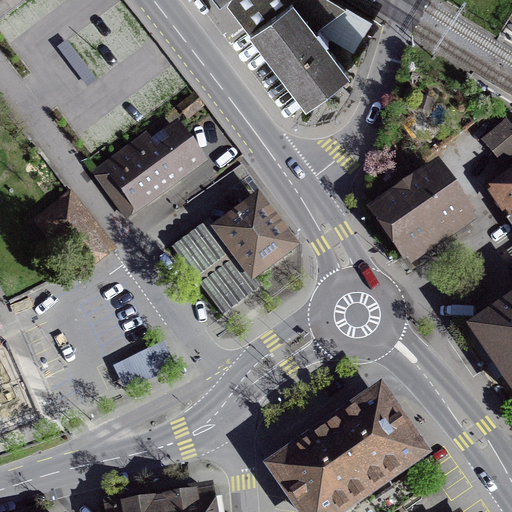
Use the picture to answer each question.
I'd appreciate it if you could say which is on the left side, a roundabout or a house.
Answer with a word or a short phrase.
house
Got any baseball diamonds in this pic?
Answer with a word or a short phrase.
No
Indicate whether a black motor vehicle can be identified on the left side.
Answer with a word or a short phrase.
Yes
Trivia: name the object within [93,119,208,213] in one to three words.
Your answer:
house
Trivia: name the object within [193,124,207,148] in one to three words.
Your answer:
vehicle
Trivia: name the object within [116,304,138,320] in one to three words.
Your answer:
car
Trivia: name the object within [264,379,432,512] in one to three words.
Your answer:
building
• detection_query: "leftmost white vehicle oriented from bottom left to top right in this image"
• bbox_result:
[35,294,58,315]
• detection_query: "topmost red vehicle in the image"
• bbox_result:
[358,263,380,288]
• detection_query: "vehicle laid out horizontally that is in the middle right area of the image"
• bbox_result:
[440,304,474,316]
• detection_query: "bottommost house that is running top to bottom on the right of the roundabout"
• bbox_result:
[466,289,512,393]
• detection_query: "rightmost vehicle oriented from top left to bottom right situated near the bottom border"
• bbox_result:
[476,470,496,492]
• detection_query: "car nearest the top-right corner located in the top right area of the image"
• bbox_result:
[472,122,492,140]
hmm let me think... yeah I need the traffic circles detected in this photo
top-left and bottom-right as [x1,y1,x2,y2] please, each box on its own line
[308,266,407,364]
